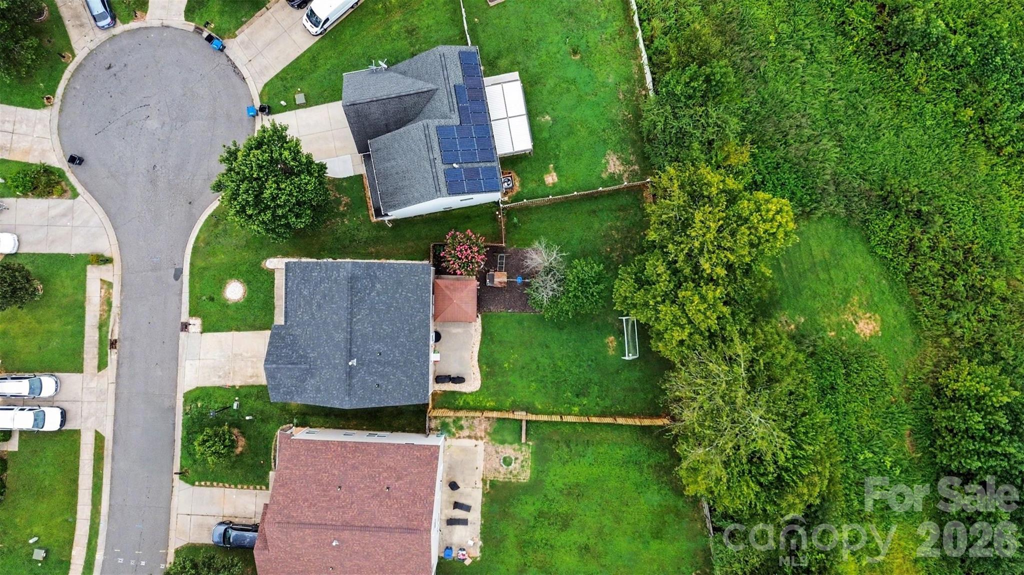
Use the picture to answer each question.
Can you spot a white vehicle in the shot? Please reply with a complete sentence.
Yes, you can see a white vehicle in this photo.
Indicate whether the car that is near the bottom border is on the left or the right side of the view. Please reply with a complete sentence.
The car that is near the bottom border is on the left side of the image.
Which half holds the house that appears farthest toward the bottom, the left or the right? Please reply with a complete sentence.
You can find the house that appears farthest toward the bottom on the left side of the picture.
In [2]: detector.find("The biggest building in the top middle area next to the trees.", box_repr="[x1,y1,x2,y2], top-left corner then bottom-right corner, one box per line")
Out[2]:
[342,46,506,222]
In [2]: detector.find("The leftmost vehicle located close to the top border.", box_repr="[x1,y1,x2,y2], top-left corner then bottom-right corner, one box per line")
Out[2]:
[88,0,119,30]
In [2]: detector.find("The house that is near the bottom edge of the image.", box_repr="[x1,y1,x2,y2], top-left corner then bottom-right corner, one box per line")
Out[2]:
[254,423,443,575]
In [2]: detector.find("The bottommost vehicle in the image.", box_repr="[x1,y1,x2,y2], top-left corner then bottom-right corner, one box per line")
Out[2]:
[211,523,259,551]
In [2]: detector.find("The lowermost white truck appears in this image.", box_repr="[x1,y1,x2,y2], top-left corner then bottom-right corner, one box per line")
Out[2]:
[0,406,68,432]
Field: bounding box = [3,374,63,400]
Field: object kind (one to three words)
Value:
car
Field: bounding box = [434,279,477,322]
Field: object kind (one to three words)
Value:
gazebo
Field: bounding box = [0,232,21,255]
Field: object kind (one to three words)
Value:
car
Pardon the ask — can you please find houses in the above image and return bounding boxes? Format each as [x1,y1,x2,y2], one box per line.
[342,46,506,222]
[254,423,443,575]
[264,261,433,409]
